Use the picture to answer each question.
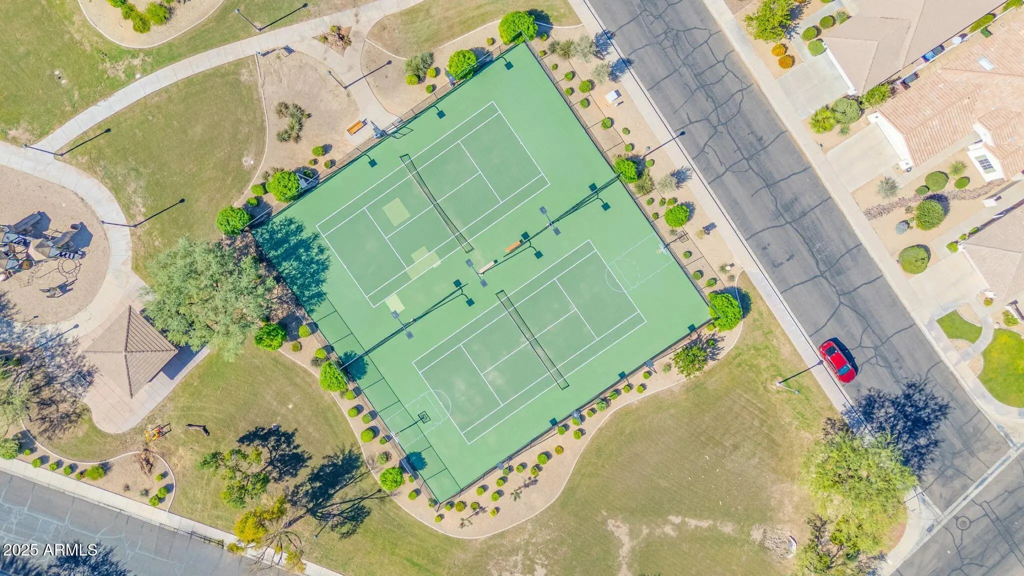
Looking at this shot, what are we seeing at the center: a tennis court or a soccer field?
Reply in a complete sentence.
The feature located at the center is a tennis court.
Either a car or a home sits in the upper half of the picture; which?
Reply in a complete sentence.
It is a home that can be seen in the upper half of the picture.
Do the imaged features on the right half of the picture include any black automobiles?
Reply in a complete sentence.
No, there is no black automobile on the right half of the picture.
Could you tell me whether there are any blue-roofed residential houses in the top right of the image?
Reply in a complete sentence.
No, no blue-roofed residential house can be made out in the top right of the image.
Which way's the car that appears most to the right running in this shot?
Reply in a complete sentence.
The car that appears most to the right is laid out diagonally.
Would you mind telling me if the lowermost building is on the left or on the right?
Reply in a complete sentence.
It is on the left.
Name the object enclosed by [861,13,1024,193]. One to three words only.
house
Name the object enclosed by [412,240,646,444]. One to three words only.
tennis court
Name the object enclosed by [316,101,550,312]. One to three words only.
tennis court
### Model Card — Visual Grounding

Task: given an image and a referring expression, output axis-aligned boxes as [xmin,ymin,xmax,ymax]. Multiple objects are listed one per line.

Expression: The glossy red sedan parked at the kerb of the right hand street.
[820,339,854,382]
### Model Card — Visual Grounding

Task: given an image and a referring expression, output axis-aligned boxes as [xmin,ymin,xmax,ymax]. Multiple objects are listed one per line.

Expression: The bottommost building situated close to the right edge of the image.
[951,202,1024,303]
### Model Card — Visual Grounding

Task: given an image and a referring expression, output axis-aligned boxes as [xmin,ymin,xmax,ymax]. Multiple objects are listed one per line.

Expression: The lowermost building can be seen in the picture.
[83,305,181,398]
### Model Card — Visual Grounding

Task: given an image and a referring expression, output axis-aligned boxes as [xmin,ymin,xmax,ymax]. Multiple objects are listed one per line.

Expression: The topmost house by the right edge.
[819,0,1004,97]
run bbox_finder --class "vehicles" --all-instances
[820,339,854,382]
[145,429,163,440]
